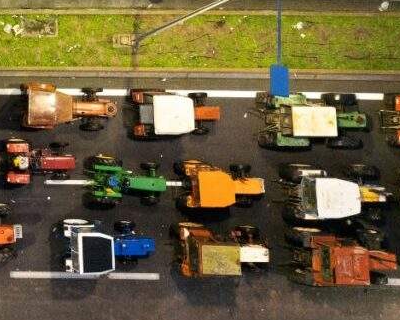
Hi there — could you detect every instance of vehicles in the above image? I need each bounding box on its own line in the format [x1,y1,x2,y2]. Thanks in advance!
[165,223,269,283]
[170,160,264,212]
[51,218,155,275]
[272,164,383,222]
[12,83,109,135]
[81,158,166,209]
[369,95,400,146]
[250,95,365,146]
[123,89,219,138]
[281,228,395,289]
[0,140,76,184]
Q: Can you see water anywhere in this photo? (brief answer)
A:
No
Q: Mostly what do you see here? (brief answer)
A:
paved ground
